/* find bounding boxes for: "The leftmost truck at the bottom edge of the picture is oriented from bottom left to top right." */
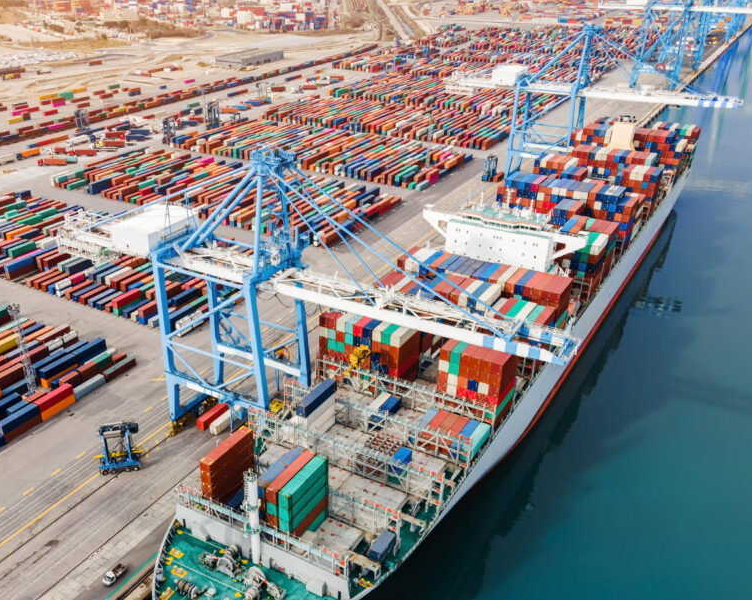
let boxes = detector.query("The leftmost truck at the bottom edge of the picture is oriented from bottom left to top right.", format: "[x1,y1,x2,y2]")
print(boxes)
[98,570,125,593]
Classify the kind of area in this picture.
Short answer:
port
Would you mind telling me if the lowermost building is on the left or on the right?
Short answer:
left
